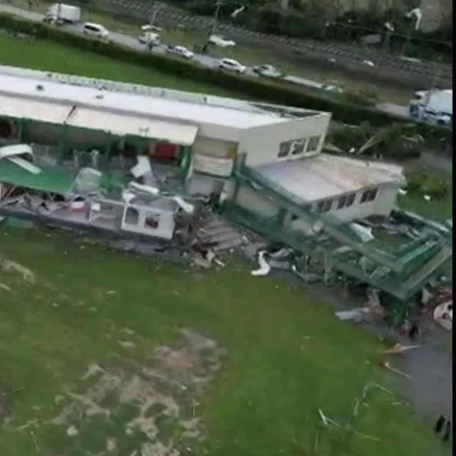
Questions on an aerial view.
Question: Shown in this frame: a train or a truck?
truck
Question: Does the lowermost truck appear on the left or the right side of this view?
right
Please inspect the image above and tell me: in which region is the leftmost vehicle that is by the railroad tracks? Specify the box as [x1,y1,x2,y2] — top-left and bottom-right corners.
[44,3,82,27]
